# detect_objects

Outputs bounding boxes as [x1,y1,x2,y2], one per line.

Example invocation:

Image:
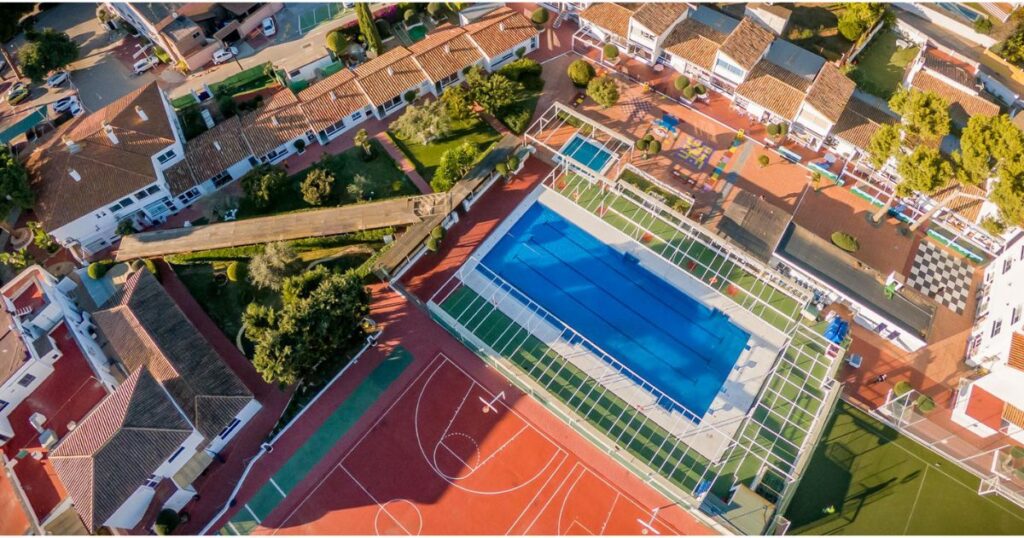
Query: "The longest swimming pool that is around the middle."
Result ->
[477,199,756,426]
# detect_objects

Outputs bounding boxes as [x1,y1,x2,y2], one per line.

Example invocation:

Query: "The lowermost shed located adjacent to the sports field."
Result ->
[692,485,775,538]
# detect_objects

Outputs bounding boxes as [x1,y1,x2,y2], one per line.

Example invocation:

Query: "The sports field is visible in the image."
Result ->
[778,399,1024,538]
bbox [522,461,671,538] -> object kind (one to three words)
basketball court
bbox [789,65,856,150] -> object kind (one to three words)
house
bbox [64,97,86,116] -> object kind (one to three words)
car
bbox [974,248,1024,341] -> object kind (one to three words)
building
